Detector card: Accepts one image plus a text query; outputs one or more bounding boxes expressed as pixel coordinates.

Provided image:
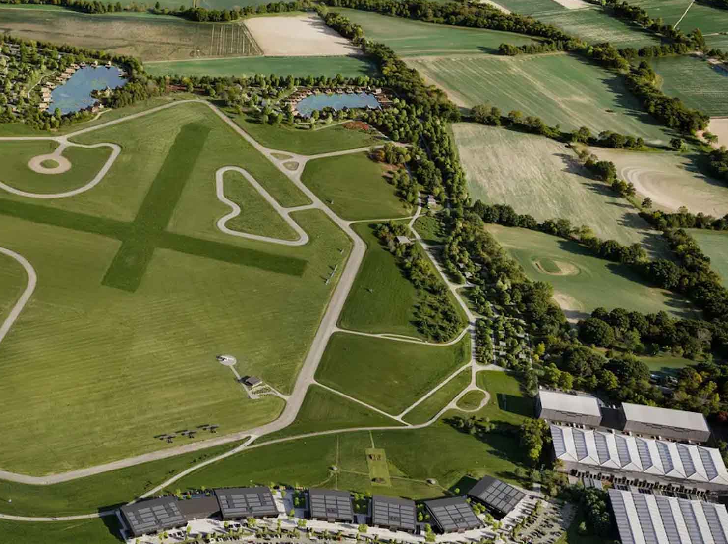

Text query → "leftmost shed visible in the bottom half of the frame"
[120,496,187,543]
